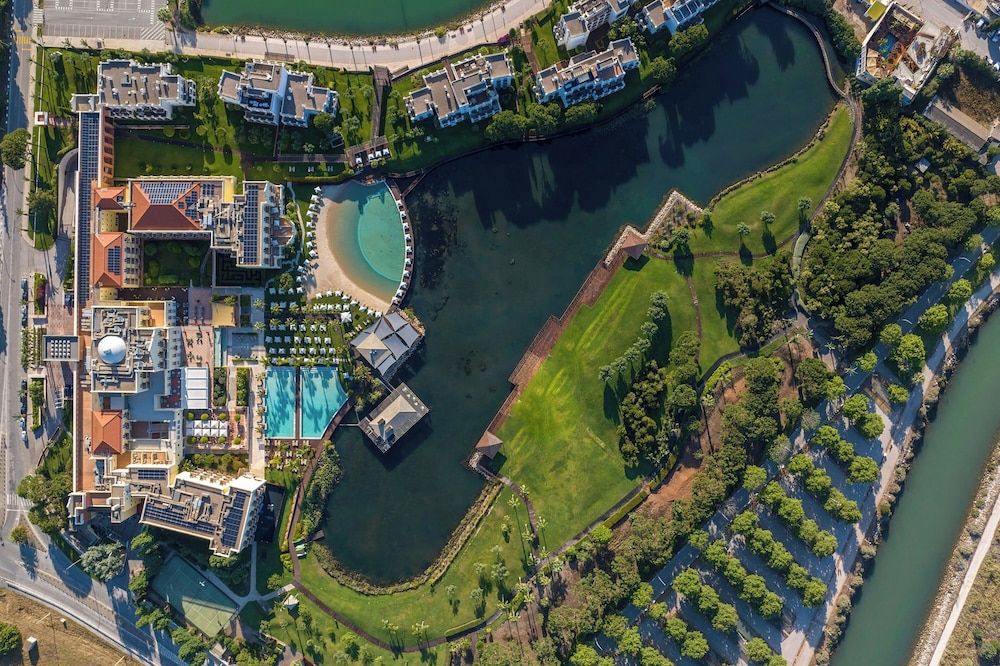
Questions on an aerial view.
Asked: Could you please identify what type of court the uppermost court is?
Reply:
tennis court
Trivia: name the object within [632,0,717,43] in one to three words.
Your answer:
building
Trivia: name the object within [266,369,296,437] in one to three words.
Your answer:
swimming pool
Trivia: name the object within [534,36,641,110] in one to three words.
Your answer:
building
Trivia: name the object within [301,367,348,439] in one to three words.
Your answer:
swimming pool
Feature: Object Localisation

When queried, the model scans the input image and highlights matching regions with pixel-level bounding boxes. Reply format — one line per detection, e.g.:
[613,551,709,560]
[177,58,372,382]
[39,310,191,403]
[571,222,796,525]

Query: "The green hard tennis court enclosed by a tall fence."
[145,556,238,643]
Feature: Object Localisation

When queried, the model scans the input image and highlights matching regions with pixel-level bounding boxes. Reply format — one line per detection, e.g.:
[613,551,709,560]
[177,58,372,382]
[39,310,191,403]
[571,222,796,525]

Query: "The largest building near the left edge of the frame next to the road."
[43,112,298,556]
